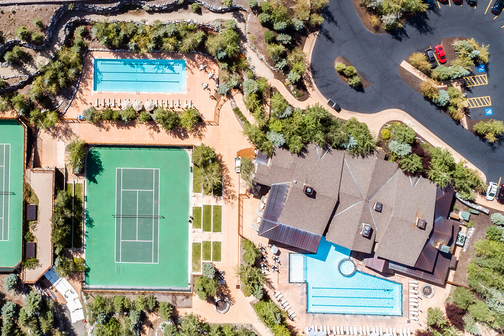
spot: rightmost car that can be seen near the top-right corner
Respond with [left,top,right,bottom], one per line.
[491,0,504,14]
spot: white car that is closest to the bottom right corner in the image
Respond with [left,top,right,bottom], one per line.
[485,181,498,201]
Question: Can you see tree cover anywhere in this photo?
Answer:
Yes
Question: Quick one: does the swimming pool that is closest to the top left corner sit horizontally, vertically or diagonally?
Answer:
horizontally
